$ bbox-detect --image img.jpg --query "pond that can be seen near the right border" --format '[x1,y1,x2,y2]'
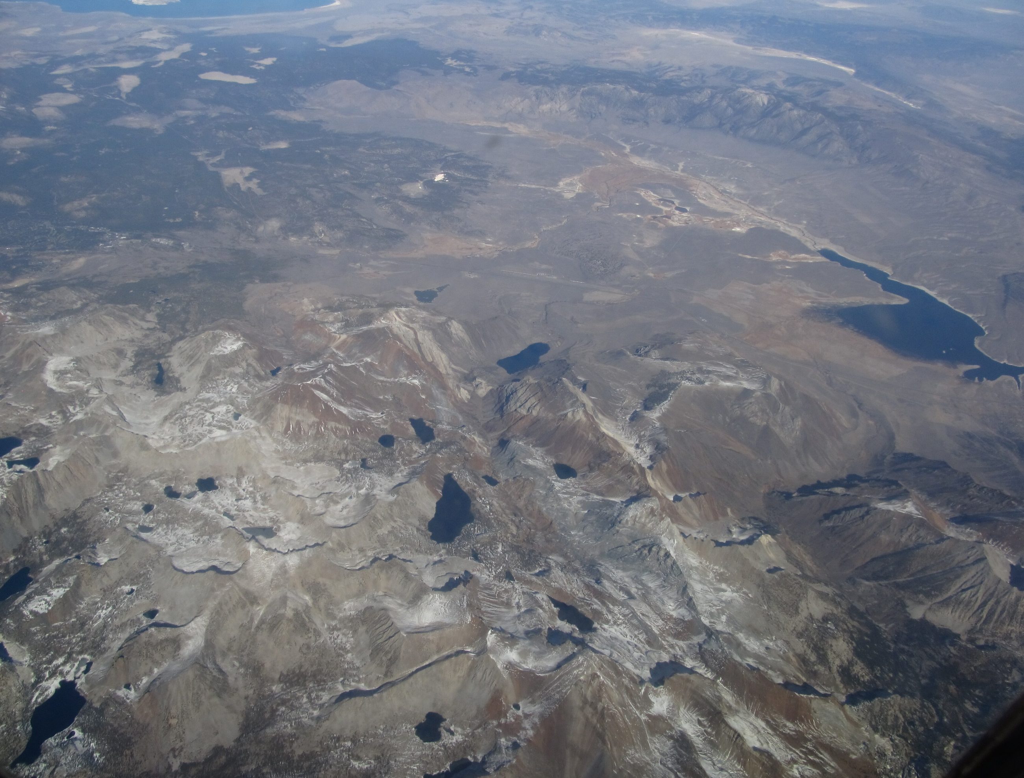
[817,248,1024,389]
